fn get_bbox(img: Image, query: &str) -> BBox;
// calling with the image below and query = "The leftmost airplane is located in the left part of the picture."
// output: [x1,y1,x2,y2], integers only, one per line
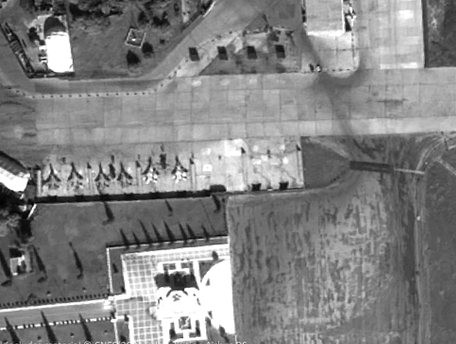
[46,171,60,195]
